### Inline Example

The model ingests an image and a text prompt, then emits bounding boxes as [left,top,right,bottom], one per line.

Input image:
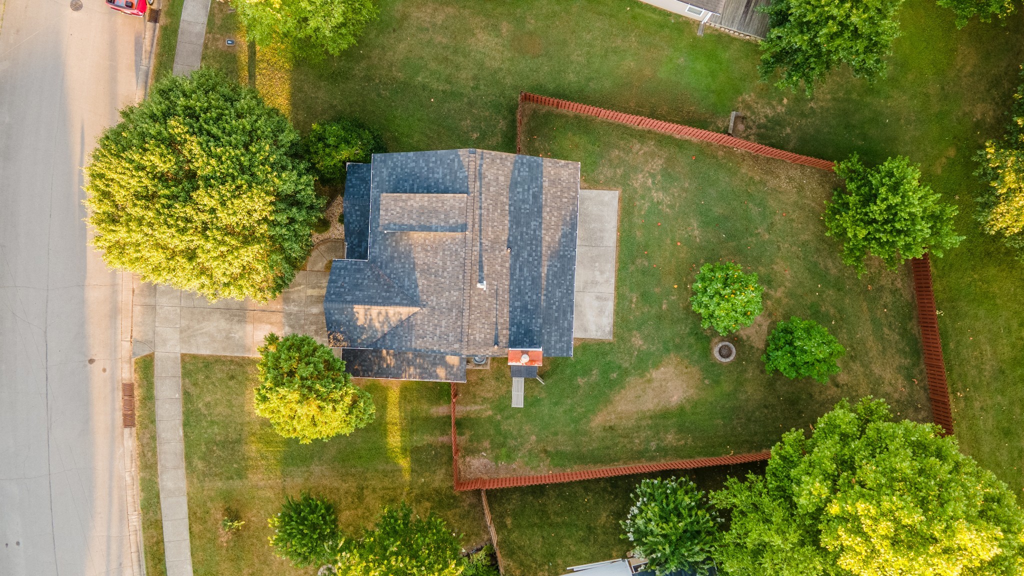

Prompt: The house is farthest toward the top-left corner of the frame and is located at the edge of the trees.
[324,148,584,385]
